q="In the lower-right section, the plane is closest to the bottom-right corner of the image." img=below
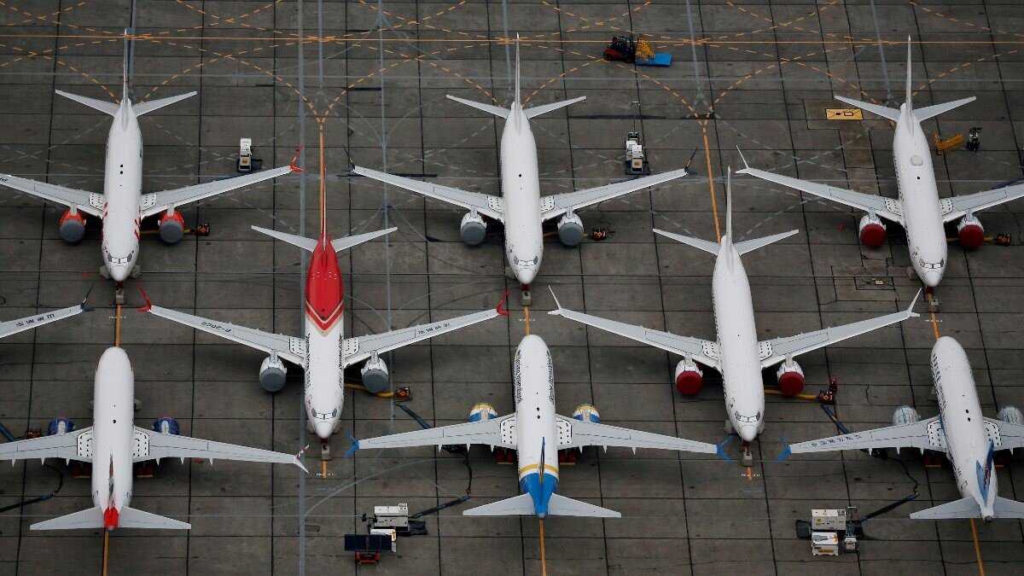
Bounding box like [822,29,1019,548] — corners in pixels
[778,334,1024,524]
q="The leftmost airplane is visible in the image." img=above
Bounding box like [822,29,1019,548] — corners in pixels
[0,282,97,342]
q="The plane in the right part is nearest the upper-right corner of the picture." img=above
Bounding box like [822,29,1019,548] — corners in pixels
[737,32,1024,298]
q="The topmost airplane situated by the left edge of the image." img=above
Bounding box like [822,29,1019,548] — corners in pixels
[0,28,303,292]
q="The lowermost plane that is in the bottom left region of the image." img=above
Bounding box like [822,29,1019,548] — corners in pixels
[0,342,308,534]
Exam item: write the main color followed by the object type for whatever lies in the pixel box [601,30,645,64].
black work vehicle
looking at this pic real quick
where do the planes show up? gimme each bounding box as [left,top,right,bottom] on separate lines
[737,32,1024,298]
[0,342,308,534]
[0,282,97,342]
[549,162,921,448]
[778,334,1024,524]
[0,28,303,292]
[341,31,698,296]
[344,331,734,521]
[137,160,510,445]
